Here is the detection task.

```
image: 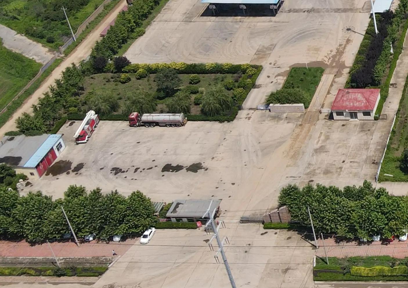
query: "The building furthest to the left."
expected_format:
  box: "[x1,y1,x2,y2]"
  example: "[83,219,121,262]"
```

[0,134,66,178]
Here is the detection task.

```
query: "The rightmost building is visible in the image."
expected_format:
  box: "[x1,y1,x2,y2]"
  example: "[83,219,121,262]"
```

[330,89,381,121]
